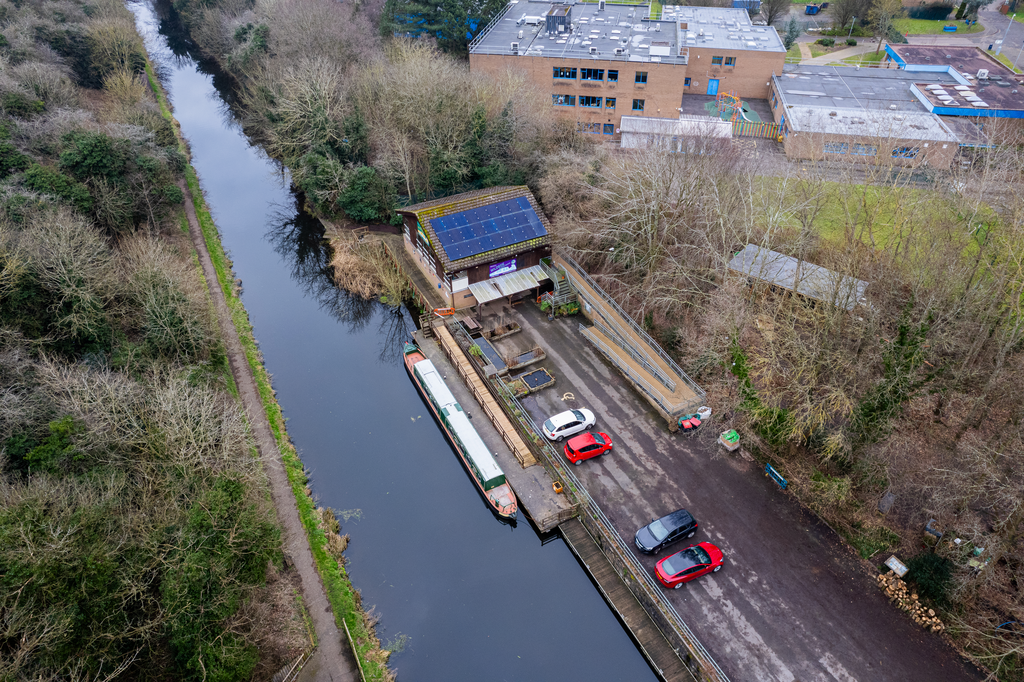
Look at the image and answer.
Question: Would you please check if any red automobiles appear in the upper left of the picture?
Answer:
No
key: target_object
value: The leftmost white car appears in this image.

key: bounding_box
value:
[541,408,599,442]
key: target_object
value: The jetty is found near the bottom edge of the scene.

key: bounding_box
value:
[555,520,695,682]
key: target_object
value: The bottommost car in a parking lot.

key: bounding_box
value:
[653,540,730,593]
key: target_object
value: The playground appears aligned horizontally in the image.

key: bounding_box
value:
[680,92,776,126]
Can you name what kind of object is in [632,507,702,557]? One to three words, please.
car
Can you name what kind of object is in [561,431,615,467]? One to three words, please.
car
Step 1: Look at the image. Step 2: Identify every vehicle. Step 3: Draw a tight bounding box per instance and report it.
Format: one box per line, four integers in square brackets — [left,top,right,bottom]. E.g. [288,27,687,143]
[632,507,702,557]
[653,540,730,593]
[541,408,599,442]
[561,431,615,467]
